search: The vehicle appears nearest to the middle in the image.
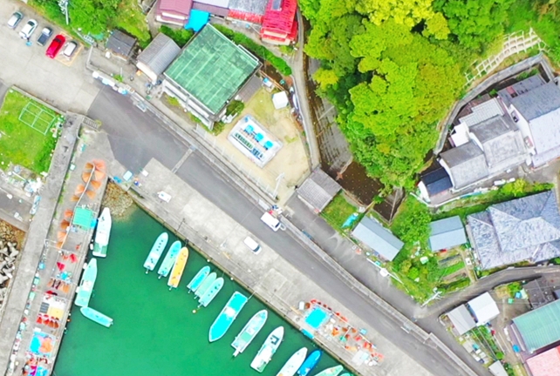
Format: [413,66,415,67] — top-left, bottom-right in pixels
[259,209,282,233]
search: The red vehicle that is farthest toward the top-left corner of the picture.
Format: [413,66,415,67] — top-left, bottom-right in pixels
[45,34,68,61]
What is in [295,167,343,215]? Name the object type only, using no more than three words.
shed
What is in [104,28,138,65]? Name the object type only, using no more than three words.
shed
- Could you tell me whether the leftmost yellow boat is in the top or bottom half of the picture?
bottom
